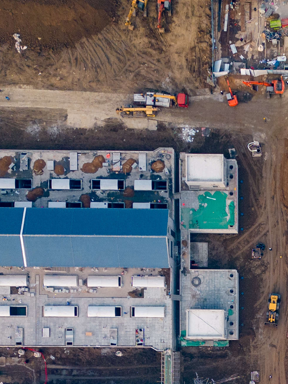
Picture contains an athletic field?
No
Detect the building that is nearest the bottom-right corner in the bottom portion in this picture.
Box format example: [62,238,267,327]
[180,269,242,341]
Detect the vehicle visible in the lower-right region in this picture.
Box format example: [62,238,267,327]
[264,292,281,328]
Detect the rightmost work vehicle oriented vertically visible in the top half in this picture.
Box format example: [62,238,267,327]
[224,77,239,108]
